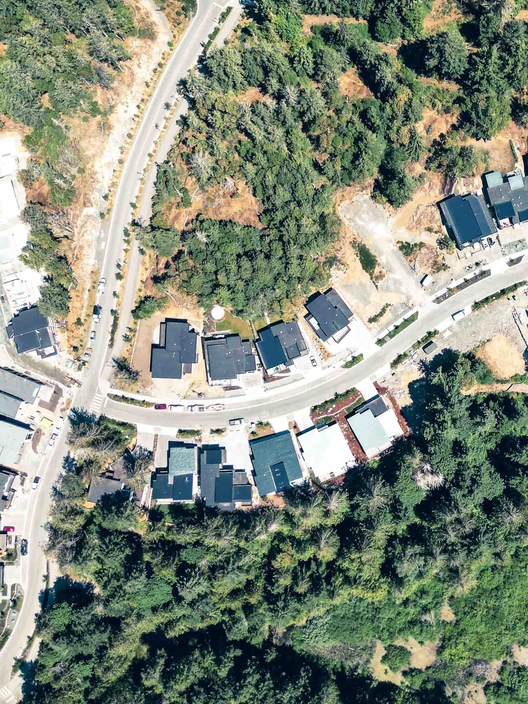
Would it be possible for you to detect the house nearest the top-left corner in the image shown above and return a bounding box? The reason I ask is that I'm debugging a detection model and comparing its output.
[7,308,58,359]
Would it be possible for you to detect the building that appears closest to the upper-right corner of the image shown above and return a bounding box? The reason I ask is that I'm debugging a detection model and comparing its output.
[485,172,528,224]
